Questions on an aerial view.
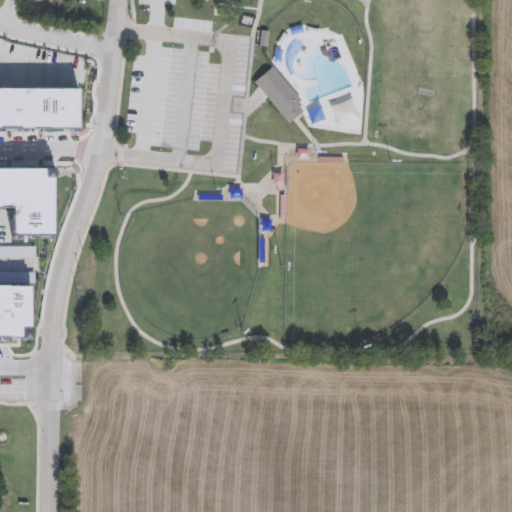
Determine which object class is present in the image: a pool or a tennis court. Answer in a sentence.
Visible in the photo is a pool.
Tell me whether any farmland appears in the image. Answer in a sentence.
Yes, farmland can be seen from above here.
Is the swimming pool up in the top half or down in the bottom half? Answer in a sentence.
It is in the top half that the swimming pool appears.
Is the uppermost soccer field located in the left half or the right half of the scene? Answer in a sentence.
The uppermost soccer field appears in the right half of the scene.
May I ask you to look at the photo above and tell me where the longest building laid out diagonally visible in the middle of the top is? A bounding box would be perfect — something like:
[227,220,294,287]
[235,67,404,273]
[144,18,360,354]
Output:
[256,68,304,122]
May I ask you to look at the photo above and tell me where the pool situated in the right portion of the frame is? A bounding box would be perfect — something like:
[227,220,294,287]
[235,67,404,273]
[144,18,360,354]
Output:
[274,26,363,135]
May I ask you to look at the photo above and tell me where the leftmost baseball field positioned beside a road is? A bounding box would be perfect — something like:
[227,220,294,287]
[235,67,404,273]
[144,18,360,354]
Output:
[120,199,258,338]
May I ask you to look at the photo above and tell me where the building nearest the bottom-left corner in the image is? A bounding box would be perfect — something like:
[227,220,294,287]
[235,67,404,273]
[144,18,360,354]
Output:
[0,286,34,338]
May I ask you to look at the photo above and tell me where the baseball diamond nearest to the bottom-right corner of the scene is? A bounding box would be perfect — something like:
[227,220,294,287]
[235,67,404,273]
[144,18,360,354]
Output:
[285,164,466,350]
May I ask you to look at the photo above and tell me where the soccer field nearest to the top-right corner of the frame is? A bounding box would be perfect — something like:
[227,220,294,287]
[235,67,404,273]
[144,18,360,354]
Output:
[372,0,469,154]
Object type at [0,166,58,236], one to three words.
building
